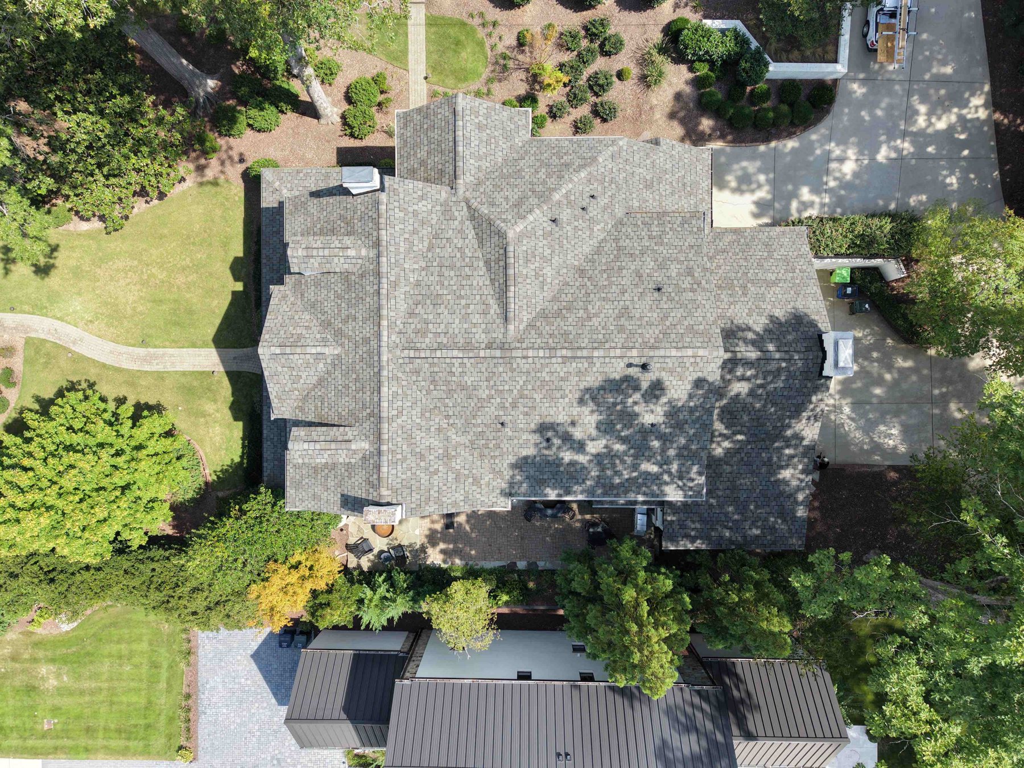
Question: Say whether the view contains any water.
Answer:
No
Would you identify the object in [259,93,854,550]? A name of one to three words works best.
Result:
house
